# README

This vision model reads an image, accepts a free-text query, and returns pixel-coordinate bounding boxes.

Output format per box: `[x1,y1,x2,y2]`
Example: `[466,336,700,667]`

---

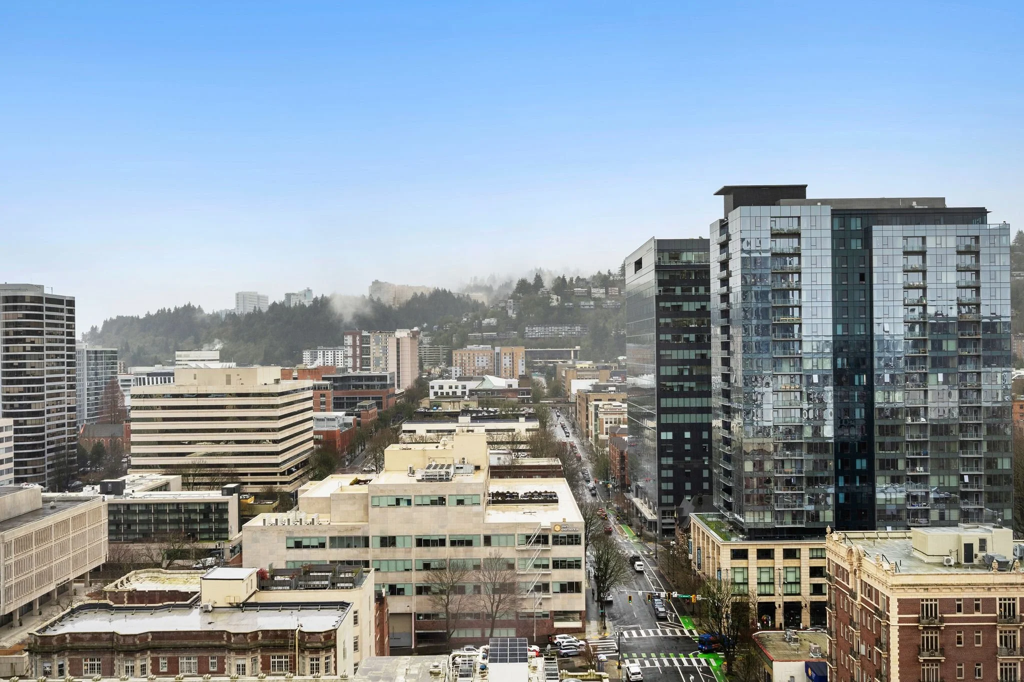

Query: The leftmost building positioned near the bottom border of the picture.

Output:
[0,505,110,648]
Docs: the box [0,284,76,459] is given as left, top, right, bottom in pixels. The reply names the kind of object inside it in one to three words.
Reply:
building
